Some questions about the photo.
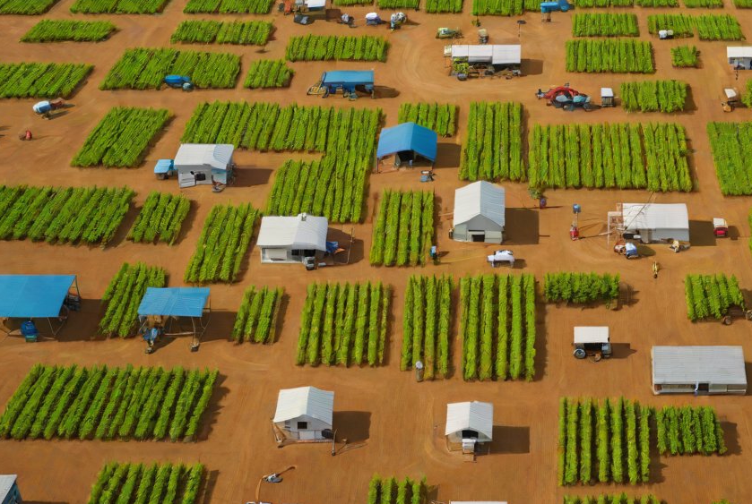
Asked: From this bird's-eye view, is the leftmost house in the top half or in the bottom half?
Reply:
top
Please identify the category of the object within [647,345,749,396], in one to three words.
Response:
shed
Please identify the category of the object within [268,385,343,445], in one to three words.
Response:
shed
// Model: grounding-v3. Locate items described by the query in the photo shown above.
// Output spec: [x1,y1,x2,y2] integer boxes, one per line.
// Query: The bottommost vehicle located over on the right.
[461,430,480,461]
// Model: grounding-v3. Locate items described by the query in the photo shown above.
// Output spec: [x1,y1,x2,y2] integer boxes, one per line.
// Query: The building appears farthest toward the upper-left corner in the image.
[173,143,236,186]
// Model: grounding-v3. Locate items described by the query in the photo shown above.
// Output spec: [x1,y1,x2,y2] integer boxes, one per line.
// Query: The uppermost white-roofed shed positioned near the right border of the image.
[724,45,752,69]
